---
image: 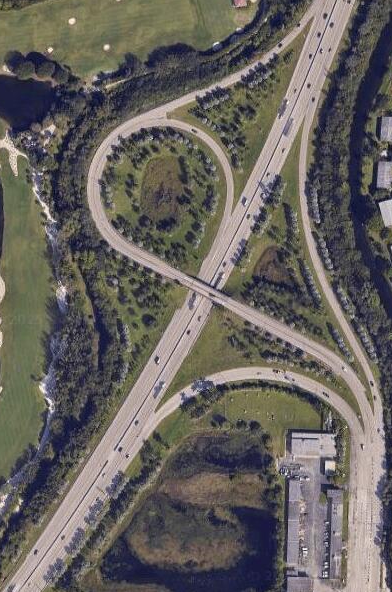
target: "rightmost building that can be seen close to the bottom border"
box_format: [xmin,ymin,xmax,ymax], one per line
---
[331,489,344,579]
